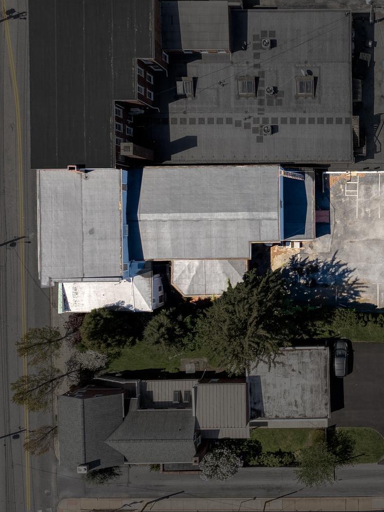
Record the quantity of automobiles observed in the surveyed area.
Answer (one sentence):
There is 1 automobile in the image.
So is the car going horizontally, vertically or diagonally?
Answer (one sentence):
The car is oriented vertically.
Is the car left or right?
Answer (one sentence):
It is on the right.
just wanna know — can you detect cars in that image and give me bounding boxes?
[331,338,351,377]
